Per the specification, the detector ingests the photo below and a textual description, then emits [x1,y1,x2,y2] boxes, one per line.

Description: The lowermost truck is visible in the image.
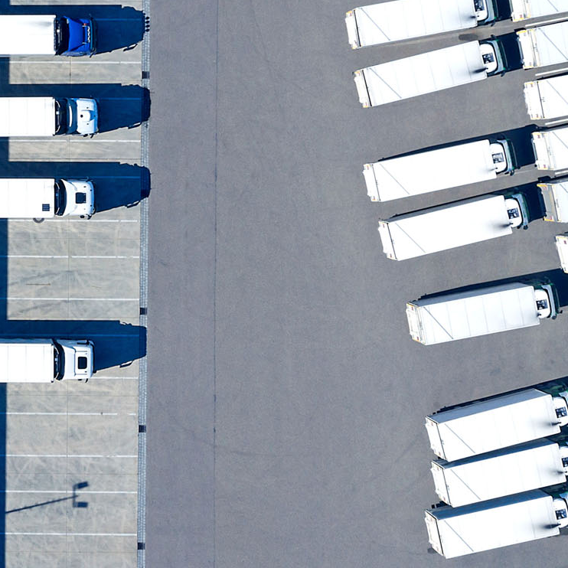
[421,481,568,558]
